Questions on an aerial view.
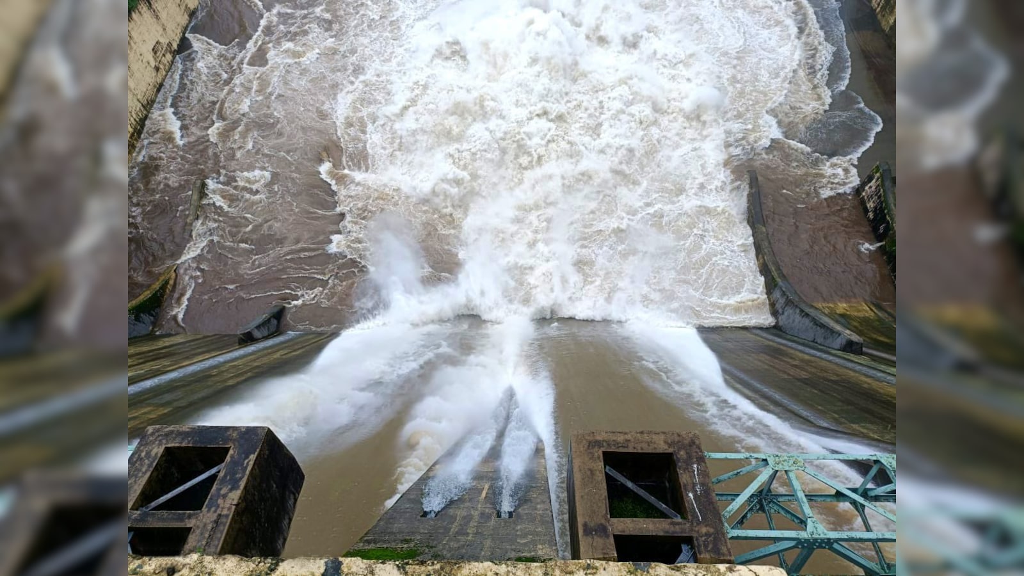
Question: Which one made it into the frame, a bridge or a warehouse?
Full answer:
The one in the frame is a bridge.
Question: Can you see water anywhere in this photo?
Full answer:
Yes, water shows up in the scene.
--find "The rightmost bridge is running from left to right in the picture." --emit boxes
[702,450,1024,576]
